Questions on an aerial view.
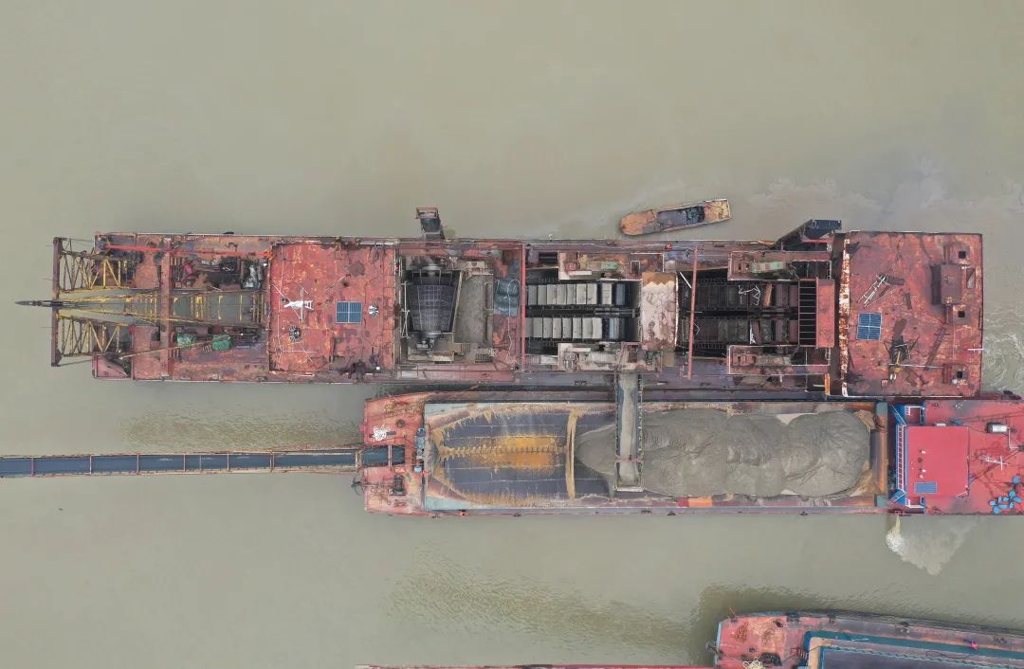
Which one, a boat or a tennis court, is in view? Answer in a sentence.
Visible in the photo is a boat.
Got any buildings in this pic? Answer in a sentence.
No, the picture doesn't show any building.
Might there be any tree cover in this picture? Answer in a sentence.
No, there is no tree cover in the image.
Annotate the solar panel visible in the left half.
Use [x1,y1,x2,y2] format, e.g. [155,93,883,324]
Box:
[336,301,362,323]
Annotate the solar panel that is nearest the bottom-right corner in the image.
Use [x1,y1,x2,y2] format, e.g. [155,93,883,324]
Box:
[914,482,937,494]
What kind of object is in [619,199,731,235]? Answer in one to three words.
boat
